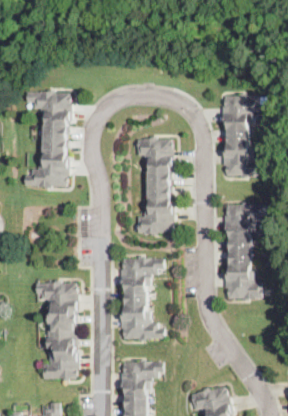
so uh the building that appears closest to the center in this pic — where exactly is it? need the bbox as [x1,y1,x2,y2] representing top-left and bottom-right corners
[136,138,176,235]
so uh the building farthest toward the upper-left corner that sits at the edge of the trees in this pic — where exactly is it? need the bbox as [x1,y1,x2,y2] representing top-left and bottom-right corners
[24,92,74,188]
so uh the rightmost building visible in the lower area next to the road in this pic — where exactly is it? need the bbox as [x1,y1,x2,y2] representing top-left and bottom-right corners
[224,204,266,299]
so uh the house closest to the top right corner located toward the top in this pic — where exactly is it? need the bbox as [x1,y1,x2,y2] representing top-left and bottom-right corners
[222,96,256,176]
